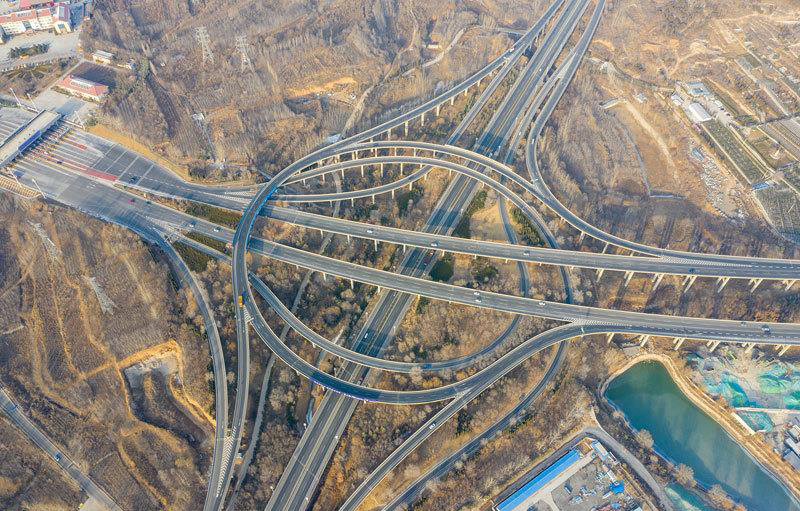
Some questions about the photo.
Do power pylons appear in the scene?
Yes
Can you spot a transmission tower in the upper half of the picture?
Yes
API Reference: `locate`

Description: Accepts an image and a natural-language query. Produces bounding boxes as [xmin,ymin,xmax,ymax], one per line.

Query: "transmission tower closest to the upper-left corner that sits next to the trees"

[195,26,215,67]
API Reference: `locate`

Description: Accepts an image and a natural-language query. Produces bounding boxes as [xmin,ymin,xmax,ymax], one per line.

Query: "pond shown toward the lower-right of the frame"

[601,360,800,511]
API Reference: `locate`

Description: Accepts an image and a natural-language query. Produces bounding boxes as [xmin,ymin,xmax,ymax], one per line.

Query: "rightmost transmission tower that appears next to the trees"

[235,33,252,71]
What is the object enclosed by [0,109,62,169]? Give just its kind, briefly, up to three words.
toll station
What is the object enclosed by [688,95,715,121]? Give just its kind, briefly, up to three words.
shed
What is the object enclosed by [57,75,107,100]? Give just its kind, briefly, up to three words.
building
